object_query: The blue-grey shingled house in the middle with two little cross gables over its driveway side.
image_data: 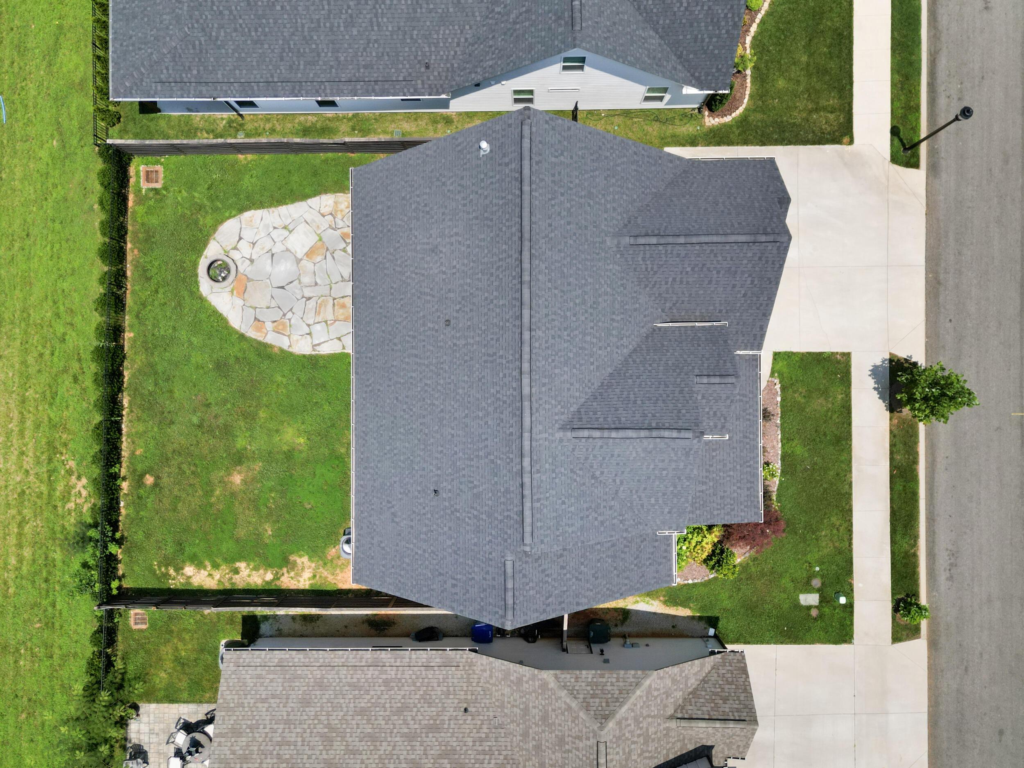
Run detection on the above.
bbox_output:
[351,107,793,631]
